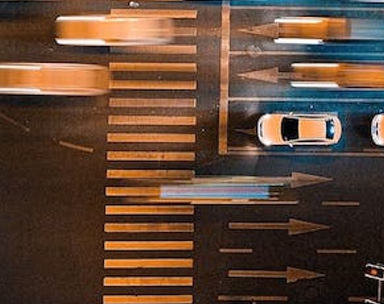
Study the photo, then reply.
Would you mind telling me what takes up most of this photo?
paved ground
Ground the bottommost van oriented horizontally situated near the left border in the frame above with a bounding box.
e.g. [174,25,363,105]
[0,58,86,99]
